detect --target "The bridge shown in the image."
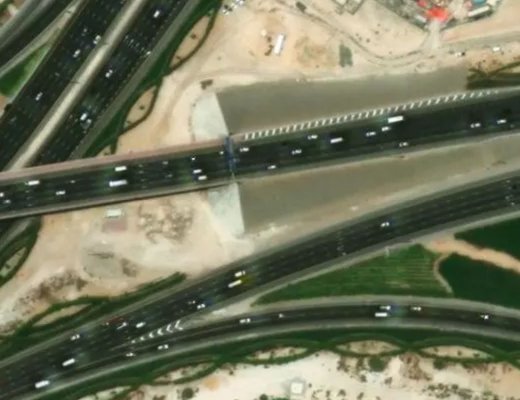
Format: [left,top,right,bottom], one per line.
[0,135,231,219]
